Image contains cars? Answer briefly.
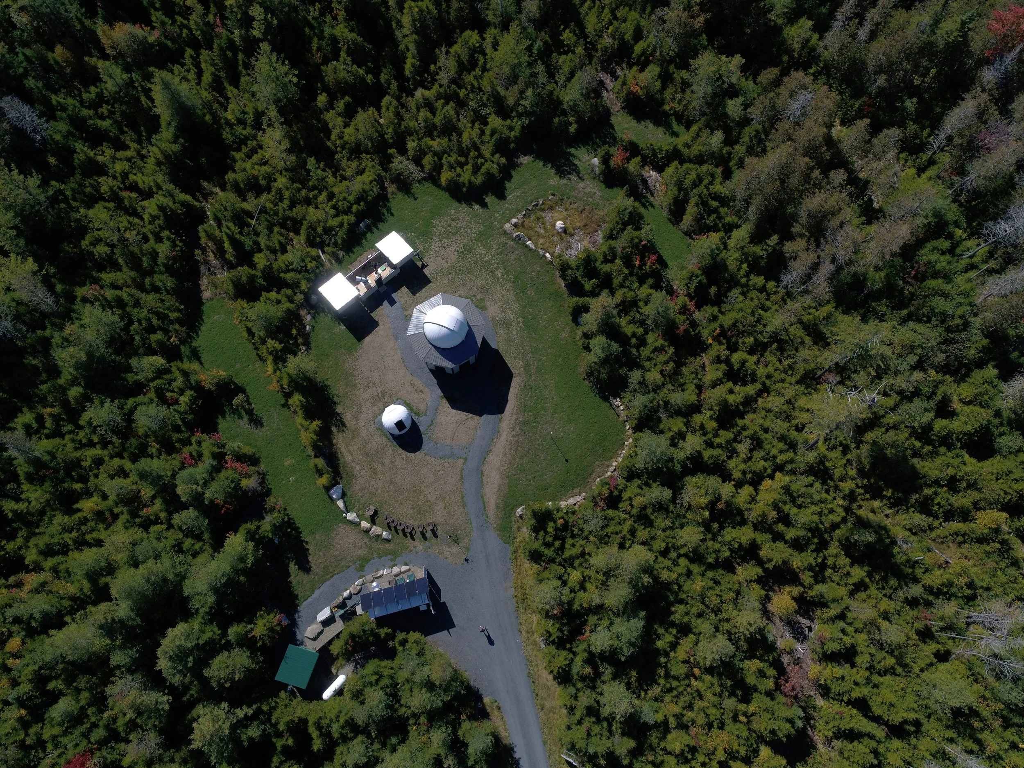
No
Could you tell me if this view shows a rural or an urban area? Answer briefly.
rural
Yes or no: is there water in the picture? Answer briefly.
No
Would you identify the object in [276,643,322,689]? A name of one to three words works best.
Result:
shed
